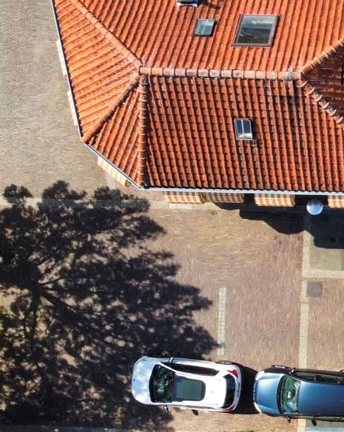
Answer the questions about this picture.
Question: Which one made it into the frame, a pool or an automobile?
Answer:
automobile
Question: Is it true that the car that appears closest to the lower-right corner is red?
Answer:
No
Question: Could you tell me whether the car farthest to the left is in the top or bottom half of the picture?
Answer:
bottom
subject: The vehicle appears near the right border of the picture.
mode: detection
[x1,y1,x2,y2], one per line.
[252,363,344,422]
